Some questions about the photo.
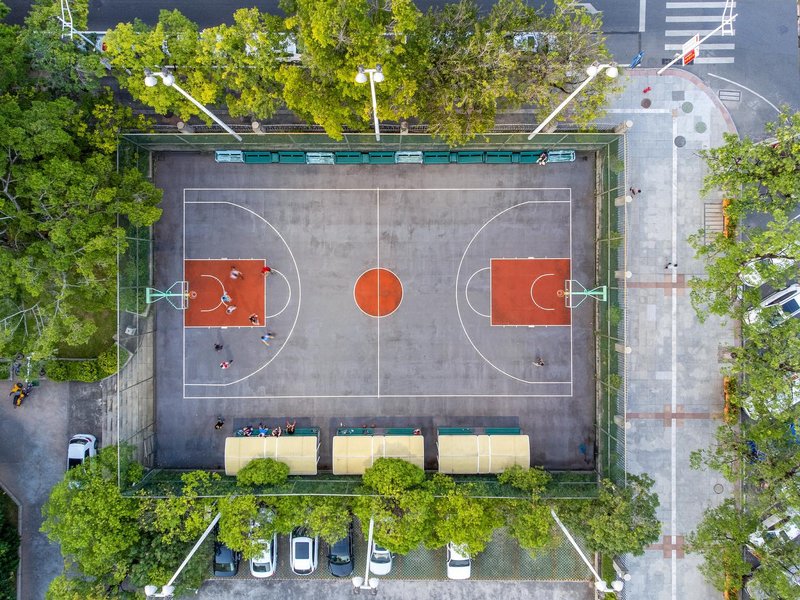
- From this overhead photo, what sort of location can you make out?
sports ground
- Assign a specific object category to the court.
basketball court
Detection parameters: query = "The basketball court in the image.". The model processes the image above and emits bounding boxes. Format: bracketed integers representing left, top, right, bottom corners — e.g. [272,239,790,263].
[152,149,597,470]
